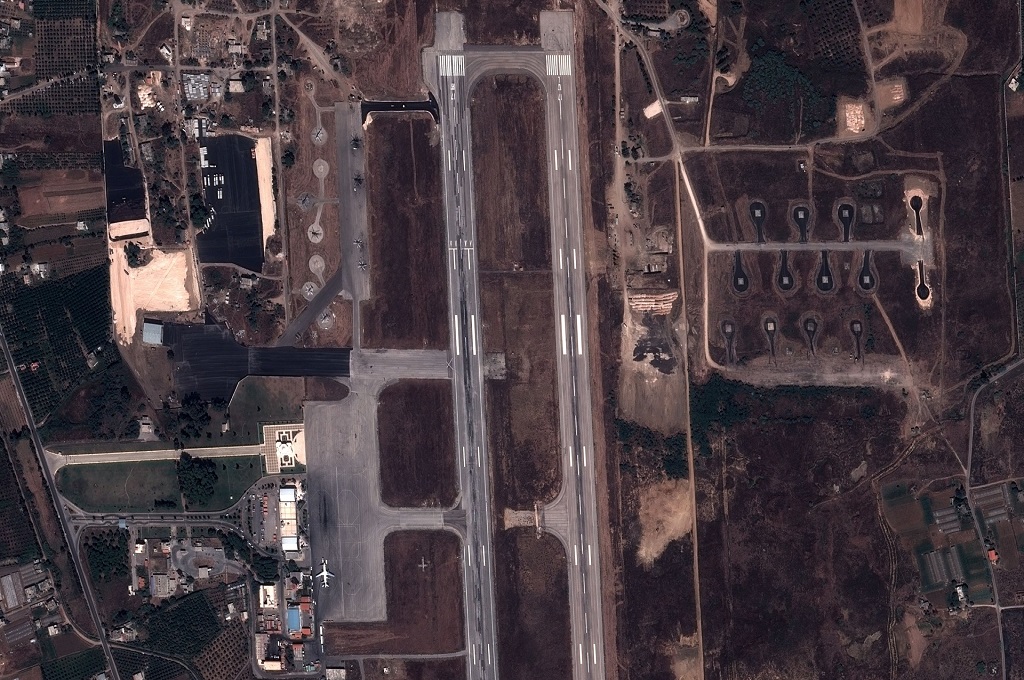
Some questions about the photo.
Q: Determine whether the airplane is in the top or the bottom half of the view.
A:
bottom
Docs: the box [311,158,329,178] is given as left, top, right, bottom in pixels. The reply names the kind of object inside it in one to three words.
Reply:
helipad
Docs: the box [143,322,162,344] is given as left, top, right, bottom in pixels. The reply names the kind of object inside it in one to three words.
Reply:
hangar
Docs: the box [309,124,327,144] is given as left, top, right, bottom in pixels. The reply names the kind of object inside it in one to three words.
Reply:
helipad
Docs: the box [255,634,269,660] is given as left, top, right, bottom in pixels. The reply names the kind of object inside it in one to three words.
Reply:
shed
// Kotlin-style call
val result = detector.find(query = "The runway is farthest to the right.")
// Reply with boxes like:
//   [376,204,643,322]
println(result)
[542,50,604,680]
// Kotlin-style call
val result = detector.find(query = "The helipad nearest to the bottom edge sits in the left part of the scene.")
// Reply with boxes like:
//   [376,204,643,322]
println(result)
[316,309,335,329]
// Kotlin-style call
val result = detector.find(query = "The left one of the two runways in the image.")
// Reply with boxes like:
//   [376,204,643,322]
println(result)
[435,50,498,680]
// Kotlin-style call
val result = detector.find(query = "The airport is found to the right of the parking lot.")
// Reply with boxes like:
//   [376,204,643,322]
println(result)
[278,11,604,680]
